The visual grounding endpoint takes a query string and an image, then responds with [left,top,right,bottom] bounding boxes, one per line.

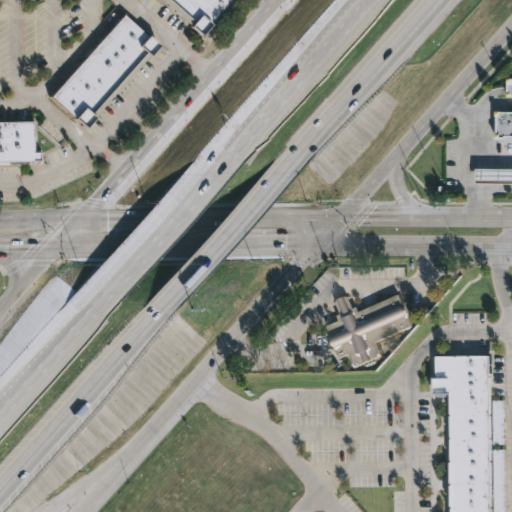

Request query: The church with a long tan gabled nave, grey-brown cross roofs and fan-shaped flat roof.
[326,296,411,369]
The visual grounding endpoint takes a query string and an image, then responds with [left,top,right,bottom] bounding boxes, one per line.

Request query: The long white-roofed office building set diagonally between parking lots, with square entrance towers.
[54,14,158,130]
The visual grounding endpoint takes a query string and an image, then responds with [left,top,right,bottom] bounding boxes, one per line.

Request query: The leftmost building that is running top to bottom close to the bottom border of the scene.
[430,356,490,512]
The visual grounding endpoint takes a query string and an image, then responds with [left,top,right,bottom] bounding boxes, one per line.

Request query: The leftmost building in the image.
[0,122,42,166]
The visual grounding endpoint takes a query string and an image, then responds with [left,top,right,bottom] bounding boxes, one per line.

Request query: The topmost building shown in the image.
[170,0,230,38]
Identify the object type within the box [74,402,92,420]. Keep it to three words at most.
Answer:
vehicle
